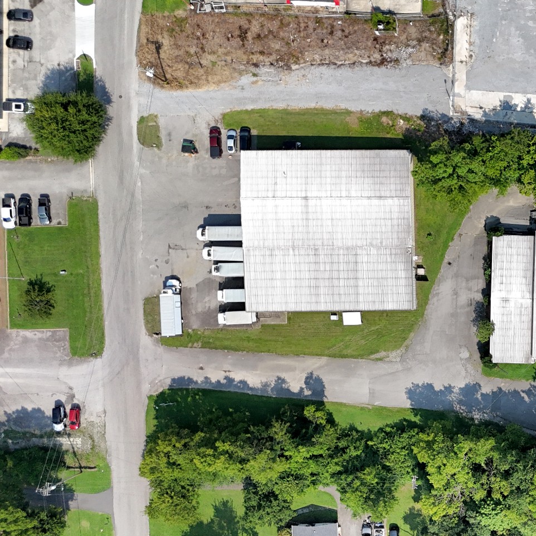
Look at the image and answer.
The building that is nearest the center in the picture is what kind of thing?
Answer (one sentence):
It looks like the building that is nearest the center is a warehouse.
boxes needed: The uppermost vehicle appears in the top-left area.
[12,8,35,21]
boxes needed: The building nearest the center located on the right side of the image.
[240,149,420,312]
